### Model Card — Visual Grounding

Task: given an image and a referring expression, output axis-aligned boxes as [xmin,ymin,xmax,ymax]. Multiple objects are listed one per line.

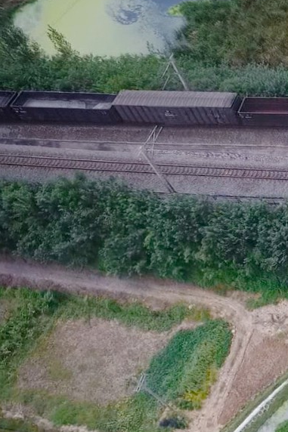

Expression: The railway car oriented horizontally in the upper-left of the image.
[11,94,120,125]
